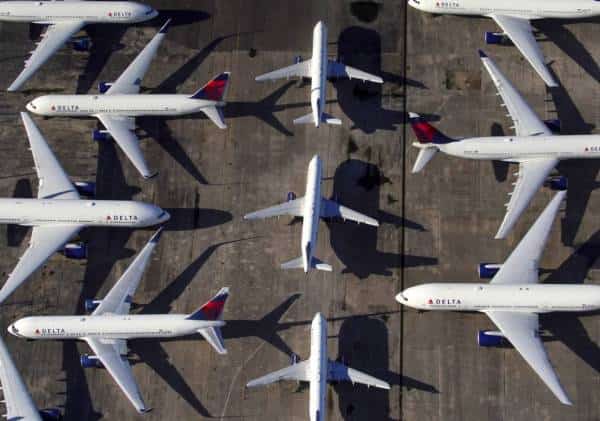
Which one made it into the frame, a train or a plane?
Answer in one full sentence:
I can see a plane in this picture.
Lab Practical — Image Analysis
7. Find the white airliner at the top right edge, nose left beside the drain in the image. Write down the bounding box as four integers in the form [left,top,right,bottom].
[408,0,600,85]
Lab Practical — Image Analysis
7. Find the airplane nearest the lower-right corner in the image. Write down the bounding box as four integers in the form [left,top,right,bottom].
[398,193,600,404]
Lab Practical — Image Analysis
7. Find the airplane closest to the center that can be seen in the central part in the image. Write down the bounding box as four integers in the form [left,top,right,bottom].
[244,155,378,272]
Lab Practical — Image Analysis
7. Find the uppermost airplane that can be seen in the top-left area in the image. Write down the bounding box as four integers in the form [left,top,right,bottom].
[0,0,162,92]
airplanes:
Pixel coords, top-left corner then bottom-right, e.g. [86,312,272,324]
[0,0,162,92]
[0,348,63,421]
[398,193,600,404]
[9,228,228,411]
[410,47,600,237]
[244,155,378,272]
[27,19,230,177]
[0,110,173,309]
[255,21,382,127]
[408,0,600,85]
[247,313,388,421]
